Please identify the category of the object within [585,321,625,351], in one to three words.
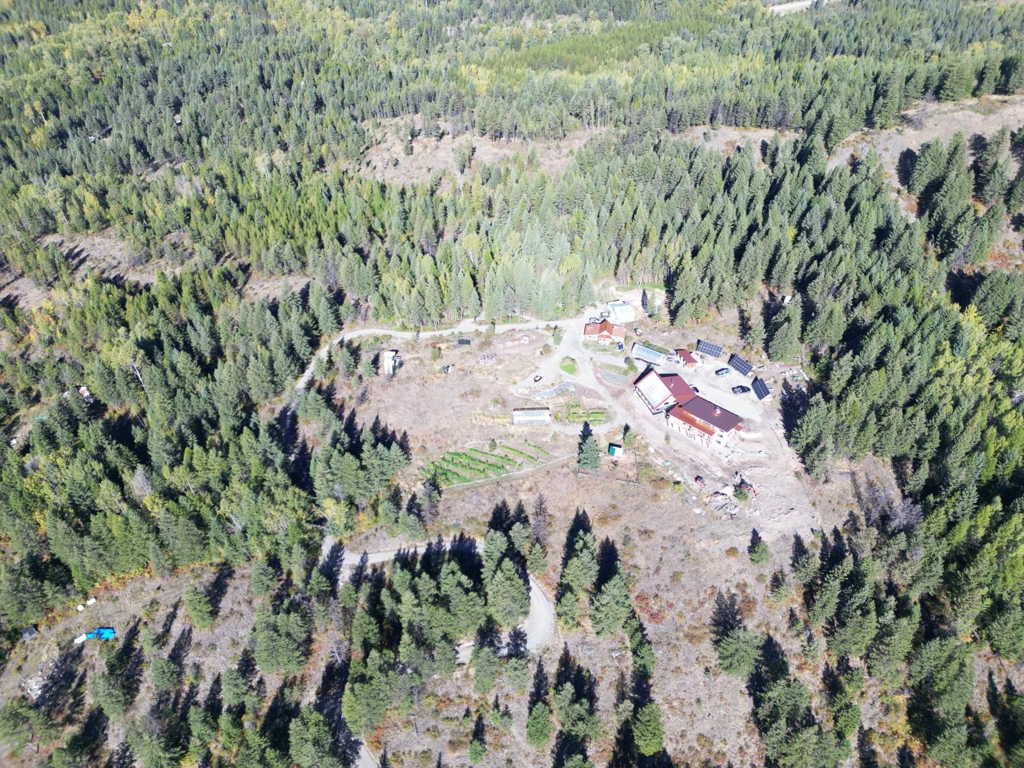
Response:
house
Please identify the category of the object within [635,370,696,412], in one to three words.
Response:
house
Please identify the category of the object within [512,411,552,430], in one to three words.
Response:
greenhouse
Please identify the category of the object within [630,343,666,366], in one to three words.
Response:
greenhouse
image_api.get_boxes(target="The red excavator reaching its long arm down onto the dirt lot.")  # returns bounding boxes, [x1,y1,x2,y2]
[737,479,767,499]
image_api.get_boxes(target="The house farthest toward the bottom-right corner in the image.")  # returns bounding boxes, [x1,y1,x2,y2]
[664,396,743,469]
